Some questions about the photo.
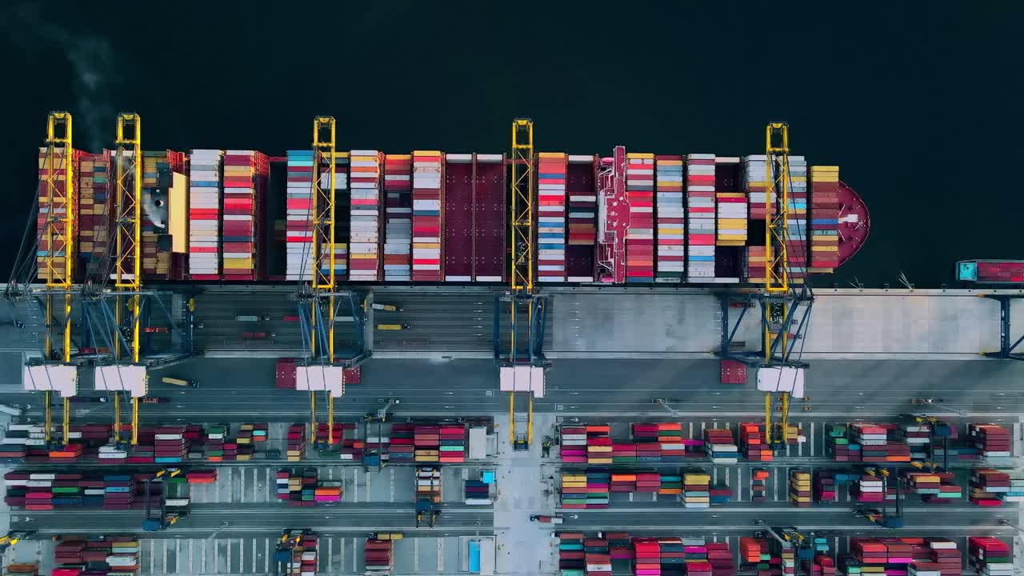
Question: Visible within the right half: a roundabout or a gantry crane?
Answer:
gantry crane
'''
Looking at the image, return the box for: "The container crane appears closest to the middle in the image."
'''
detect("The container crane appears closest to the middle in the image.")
[490,119,551,444]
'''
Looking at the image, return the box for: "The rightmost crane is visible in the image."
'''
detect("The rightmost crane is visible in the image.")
[972,294,1024,361]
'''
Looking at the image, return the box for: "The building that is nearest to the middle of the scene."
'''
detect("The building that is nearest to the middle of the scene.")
[469,427,486,458]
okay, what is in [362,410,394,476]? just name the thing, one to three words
container crane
